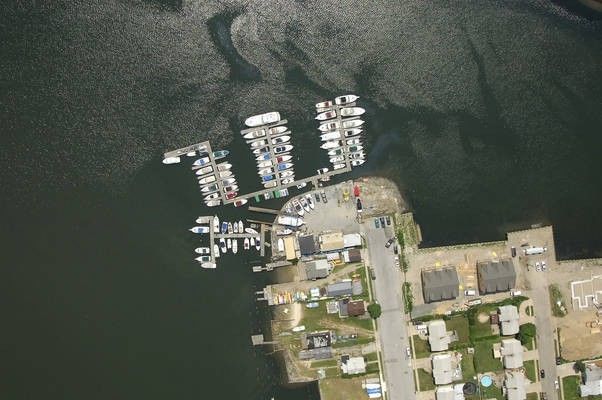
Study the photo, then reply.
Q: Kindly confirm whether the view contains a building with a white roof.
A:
Yes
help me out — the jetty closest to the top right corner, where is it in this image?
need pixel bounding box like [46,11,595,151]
[317,102,365,172]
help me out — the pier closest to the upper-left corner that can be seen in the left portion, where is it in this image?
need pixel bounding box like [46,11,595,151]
[163,141,240,205]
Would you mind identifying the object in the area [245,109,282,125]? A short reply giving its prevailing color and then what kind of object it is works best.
white boat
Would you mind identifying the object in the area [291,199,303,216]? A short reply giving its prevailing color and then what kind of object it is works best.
white boat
